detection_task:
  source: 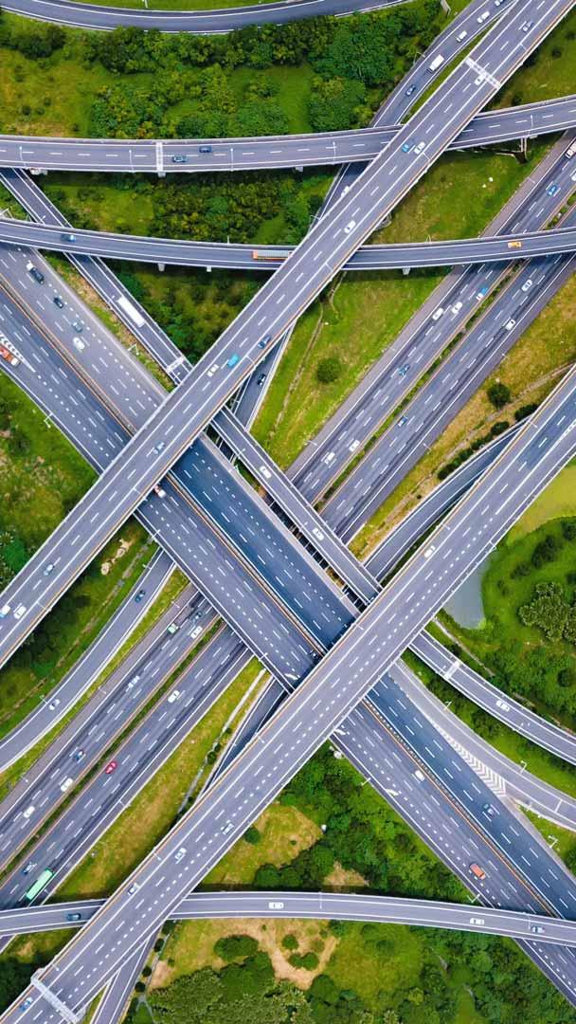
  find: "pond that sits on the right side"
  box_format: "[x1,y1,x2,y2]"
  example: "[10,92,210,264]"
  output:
[440,552,490,629]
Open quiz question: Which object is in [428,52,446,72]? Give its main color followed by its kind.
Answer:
white vehicle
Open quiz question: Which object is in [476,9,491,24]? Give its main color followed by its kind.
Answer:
white vehicle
